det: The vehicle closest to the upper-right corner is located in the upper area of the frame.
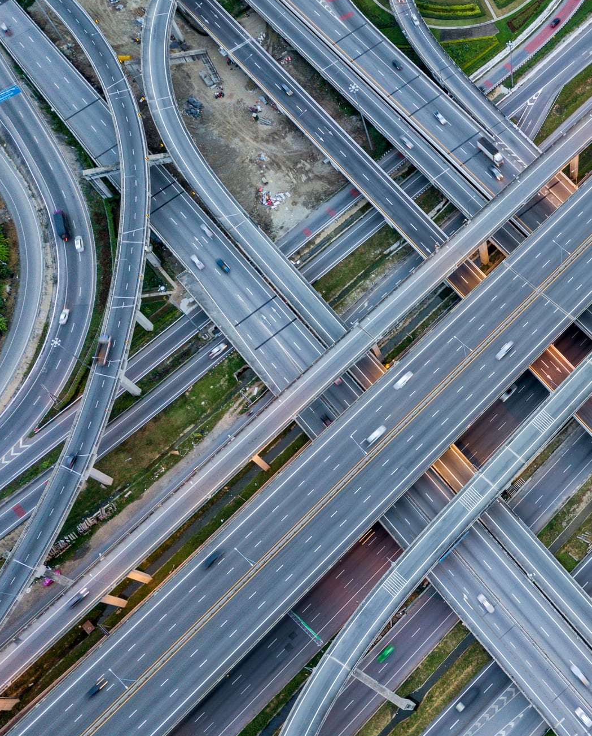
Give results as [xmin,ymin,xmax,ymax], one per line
[549,14,562,28]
